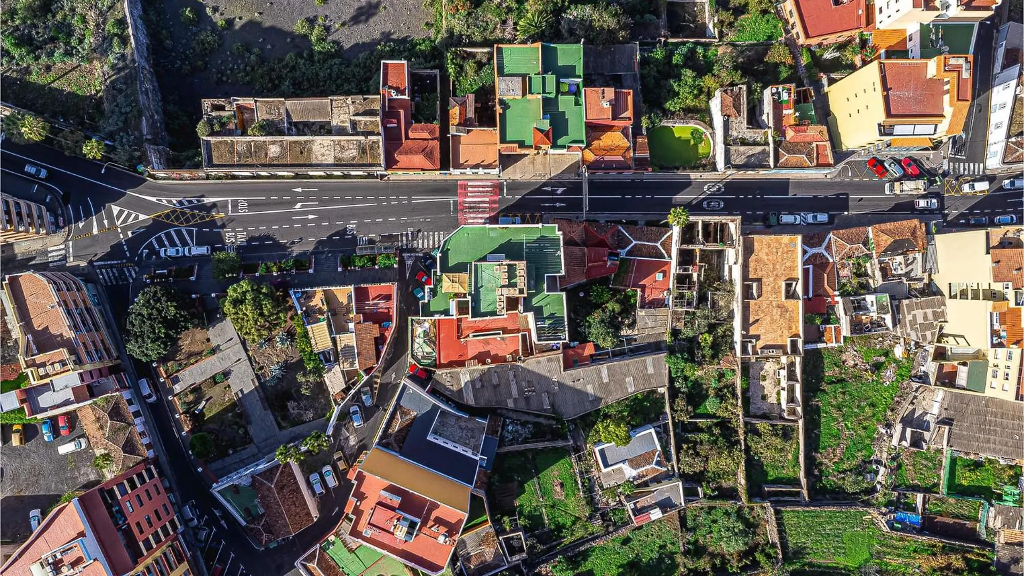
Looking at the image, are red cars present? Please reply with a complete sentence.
Yes, this view includes a red car.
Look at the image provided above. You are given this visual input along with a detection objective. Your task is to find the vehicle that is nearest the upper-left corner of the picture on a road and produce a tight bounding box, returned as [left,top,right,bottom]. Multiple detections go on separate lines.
[24,163,50,178]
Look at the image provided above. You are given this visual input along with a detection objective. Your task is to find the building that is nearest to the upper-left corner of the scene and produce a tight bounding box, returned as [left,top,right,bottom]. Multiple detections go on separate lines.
[0,192,51,246]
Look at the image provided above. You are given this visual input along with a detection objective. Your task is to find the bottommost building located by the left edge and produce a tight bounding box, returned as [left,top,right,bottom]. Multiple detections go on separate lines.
[0,460,203,576]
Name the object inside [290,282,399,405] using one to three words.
house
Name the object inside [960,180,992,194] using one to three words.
vehicle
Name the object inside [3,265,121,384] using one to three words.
building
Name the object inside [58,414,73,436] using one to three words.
car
